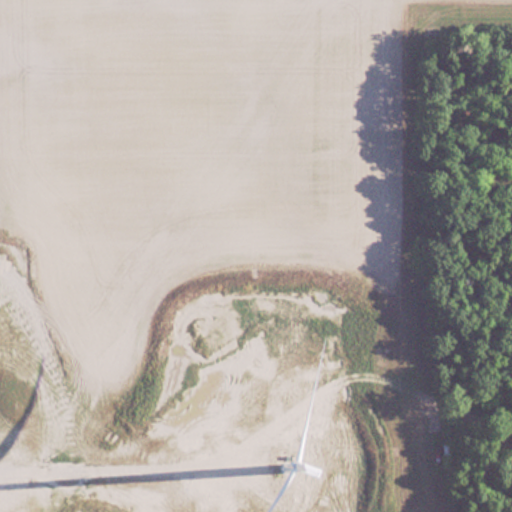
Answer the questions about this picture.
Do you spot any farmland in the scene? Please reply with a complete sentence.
Yes, there's farmland in this view.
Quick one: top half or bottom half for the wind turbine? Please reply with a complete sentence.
The wind turbine sits in the bottom half of the picture.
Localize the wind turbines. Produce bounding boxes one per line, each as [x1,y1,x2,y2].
[266,339,326,512]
